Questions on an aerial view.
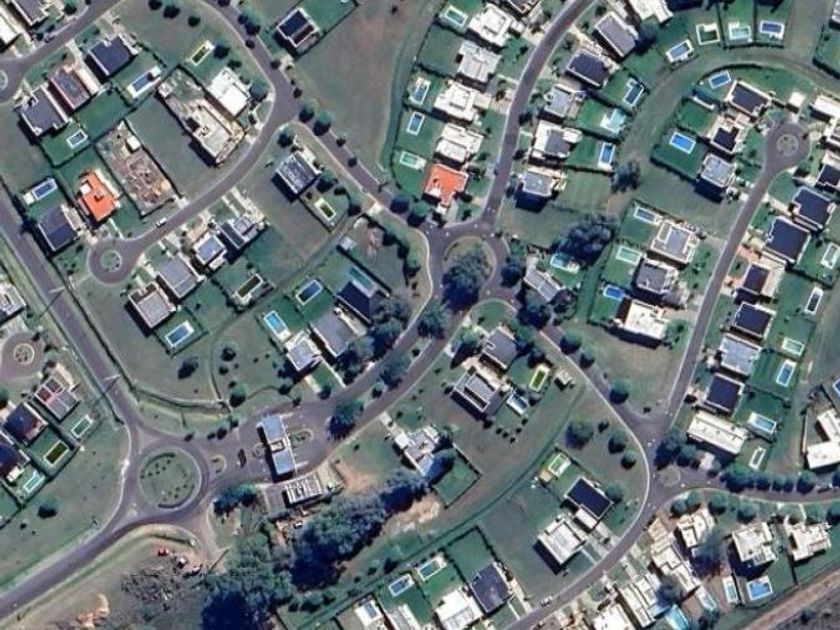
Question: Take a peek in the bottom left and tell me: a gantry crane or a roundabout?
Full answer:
The one visible in the bottom left is a roundabout.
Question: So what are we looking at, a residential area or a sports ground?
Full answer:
The picture captures a residential area.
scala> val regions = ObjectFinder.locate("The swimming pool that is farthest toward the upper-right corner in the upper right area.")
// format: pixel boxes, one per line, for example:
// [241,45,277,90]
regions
[760,21,784,39]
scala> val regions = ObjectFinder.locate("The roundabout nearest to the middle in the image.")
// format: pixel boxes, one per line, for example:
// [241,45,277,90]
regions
[426,220,514,308]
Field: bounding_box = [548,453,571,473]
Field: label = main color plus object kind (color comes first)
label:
white swimming pool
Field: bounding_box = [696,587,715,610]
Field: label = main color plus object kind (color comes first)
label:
white swimming pool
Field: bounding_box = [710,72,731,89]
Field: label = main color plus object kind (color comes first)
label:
blue swimming pool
